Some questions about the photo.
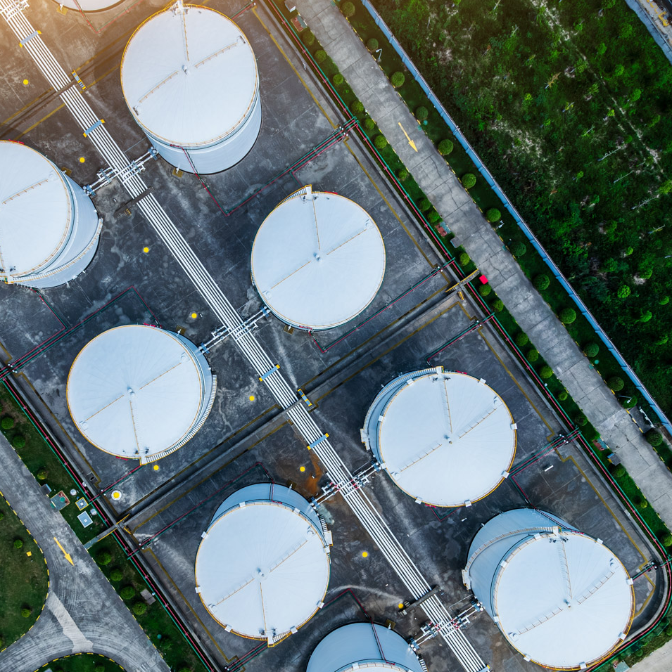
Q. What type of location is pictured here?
industrial area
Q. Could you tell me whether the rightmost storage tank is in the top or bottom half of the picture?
bottom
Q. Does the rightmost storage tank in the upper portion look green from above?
No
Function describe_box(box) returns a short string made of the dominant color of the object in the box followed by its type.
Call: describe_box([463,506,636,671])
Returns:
white storage tank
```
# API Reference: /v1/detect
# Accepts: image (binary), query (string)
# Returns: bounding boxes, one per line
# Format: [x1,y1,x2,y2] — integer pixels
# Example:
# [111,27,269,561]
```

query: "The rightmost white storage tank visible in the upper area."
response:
[248,180,388,338]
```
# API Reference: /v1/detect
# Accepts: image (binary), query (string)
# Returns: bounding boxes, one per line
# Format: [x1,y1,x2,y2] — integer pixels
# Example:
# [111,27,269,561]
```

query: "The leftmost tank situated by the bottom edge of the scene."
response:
[192,477,334,650]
